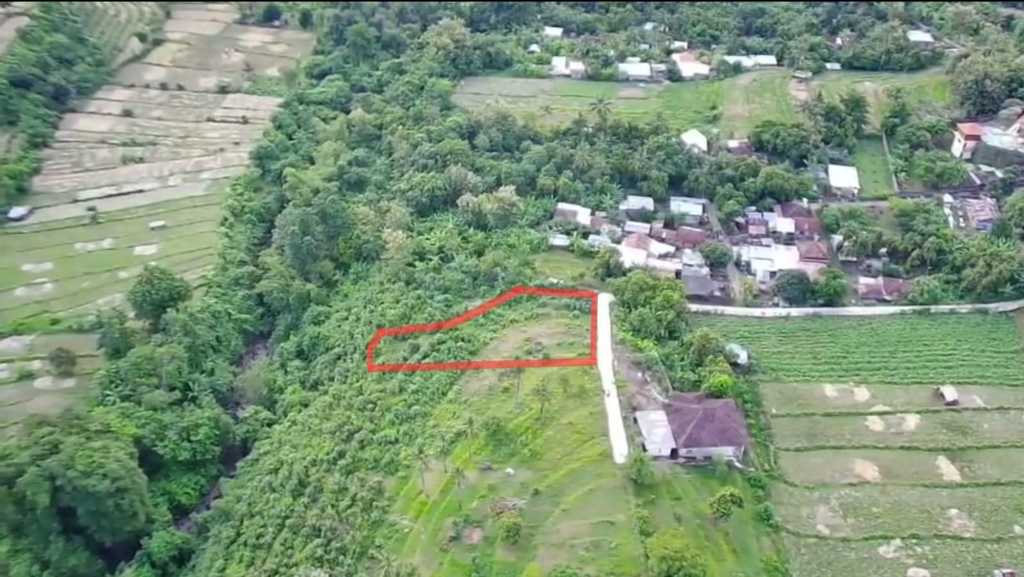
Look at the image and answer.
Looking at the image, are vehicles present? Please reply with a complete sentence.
No, I find no vehicle anywhere in the image.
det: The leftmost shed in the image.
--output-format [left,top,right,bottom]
[3,204,35,226]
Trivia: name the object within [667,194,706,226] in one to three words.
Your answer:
house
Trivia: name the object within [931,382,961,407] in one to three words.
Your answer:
shed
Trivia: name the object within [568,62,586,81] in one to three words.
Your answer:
house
